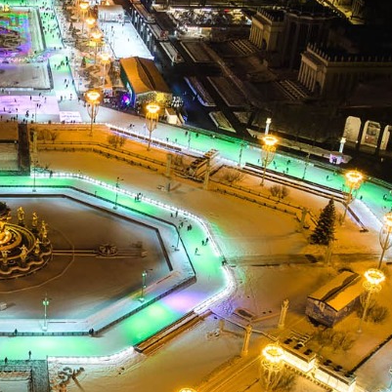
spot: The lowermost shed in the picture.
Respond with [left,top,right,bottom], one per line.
[306,278,365,325]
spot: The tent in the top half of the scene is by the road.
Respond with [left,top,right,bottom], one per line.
[95,1,127,22]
